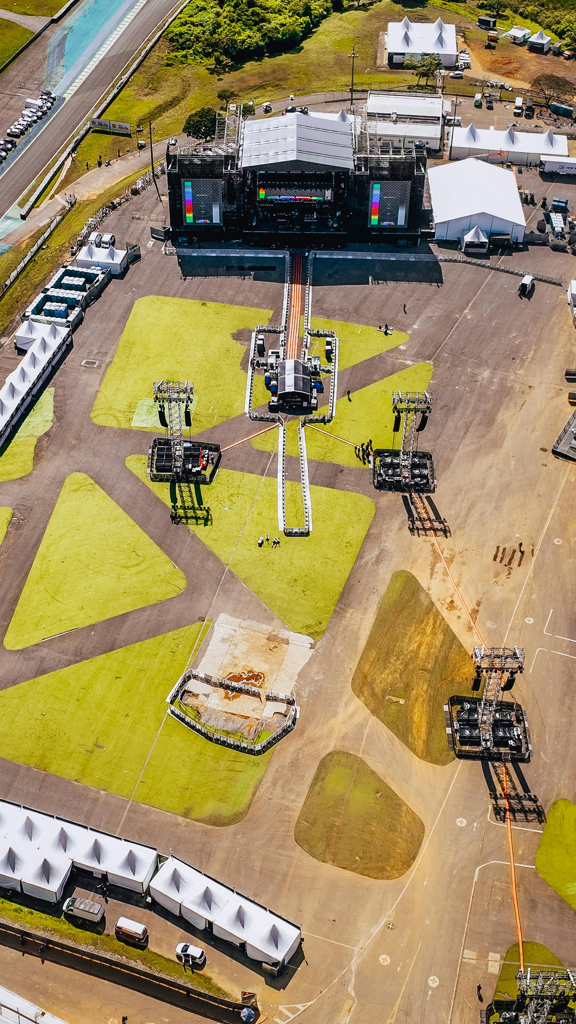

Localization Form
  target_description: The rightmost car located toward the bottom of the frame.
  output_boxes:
[173,945,209,970]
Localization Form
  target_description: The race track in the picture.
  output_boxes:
[0,0,166,218]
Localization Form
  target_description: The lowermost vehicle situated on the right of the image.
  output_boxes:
[519,274,536,294]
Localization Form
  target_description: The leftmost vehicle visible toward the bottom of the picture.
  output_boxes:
[65,898,109,924]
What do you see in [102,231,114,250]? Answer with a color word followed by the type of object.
white vehicle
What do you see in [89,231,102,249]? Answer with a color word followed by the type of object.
white vehicle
